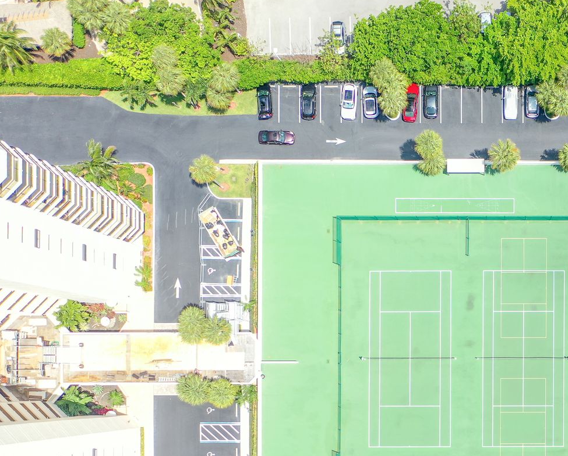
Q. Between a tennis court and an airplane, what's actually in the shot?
tennis court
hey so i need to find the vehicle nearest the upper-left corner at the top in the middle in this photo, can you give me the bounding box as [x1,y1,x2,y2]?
[255,86,273,120]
